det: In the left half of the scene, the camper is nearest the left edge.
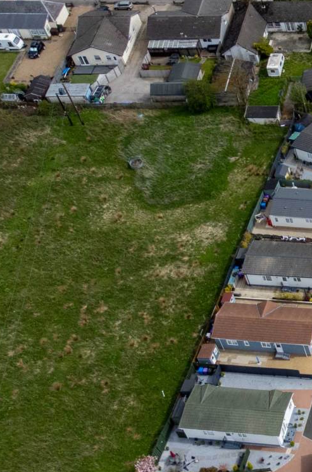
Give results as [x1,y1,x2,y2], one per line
[0,34,28,55]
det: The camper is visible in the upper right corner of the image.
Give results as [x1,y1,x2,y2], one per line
[267,55,287,78]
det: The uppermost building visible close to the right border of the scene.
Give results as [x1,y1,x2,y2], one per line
[222,0,312,65]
